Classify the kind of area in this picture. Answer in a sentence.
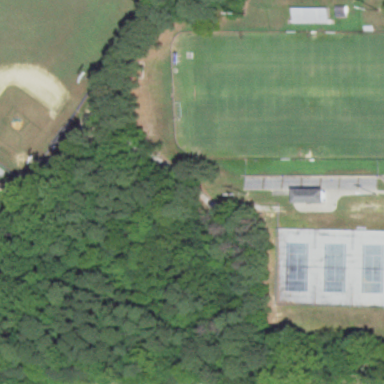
It's a sports ground.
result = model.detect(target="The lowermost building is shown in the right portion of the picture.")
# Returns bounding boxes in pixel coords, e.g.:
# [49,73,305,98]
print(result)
[288,188,324,204]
